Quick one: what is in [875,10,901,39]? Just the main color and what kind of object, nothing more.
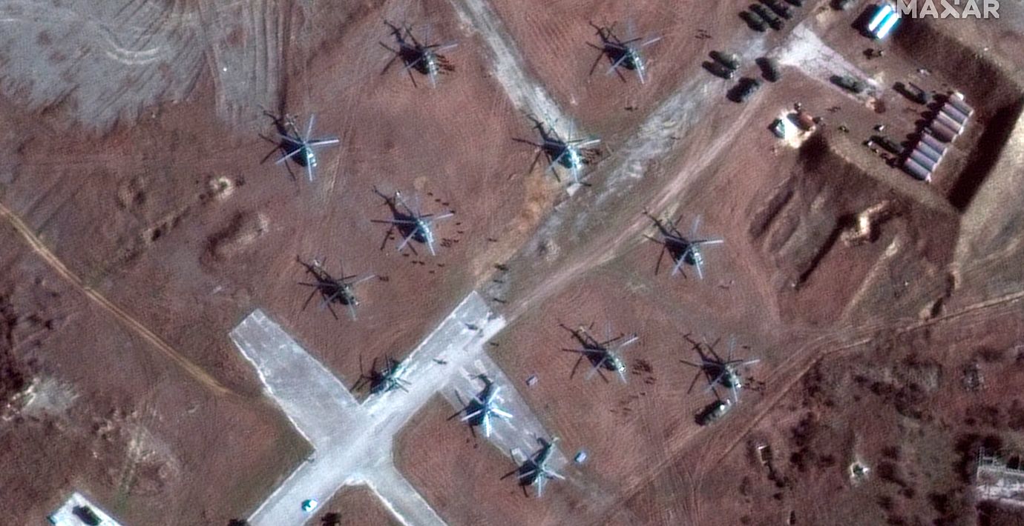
white tent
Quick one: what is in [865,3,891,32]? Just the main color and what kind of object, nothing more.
white tent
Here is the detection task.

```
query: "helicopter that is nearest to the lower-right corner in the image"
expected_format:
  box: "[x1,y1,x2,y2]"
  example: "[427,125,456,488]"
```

[695,334,759,397]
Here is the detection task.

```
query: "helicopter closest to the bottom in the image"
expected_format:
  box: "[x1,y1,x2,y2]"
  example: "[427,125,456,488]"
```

[508,435,573,505]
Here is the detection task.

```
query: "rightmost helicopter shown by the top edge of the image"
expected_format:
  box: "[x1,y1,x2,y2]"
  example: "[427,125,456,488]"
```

[599,19,663,79]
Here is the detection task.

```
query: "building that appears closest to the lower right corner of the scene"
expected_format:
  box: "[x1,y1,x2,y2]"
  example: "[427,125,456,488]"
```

[976,447,1024,508]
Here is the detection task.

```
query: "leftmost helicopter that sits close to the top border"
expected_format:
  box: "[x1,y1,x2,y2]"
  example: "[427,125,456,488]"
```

[394,21,458,83]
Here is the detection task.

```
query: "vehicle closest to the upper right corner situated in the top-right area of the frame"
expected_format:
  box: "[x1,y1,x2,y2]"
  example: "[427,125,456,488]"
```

[900,79,928,101]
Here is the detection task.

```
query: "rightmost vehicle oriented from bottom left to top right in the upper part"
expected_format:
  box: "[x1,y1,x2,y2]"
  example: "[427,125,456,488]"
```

[735,78,761,98]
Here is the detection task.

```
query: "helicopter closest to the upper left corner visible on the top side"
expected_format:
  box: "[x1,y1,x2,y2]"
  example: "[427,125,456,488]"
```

[276,109,338,176]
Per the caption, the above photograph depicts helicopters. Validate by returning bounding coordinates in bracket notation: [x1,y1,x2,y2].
[599,19,663,79]
[394,21,458,83]
[575,319,640,381]
[659,213,723,275]
[538,117,602,178]
[386,191,451,251]
[359,351,421,414]
[276,109,338,176]
[309,255,374,315]
[456,371,521,442]
[508,435,573,505]
[695,334,759,397]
